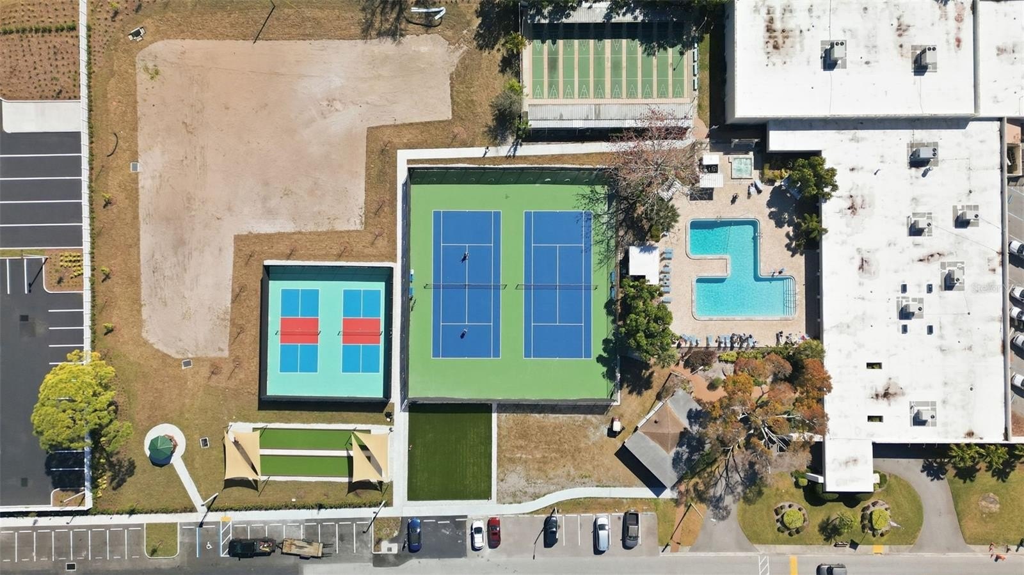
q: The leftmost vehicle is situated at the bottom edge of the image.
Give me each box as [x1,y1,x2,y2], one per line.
[230,539,273,556]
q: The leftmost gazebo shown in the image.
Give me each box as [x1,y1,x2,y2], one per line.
[148,433,182,462]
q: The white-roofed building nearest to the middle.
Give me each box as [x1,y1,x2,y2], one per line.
[629,247,659,284]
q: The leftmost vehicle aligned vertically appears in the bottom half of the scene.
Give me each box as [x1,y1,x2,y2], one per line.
[408,518,422,548]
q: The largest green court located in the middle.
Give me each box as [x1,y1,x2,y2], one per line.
[409,169,618,399]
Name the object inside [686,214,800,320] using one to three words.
swimming pool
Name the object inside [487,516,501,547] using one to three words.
car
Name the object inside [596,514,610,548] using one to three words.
car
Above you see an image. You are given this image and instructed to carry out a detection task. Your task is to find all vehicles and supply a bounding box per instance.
[408,518,422,548]
[611,416,620,433]
[815,563,847,575]
[545,514,559,545]
[624,510,640,546]
[471,519,485,549]
[1008,243,1024,259]
[230,539,273,556]
[1010,376,1024,392]
[1009,308,1024,324]
[596,514,610,548]
[1009,335,1024,351]
[487,516,501,547]
[1009,287,1024,303]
